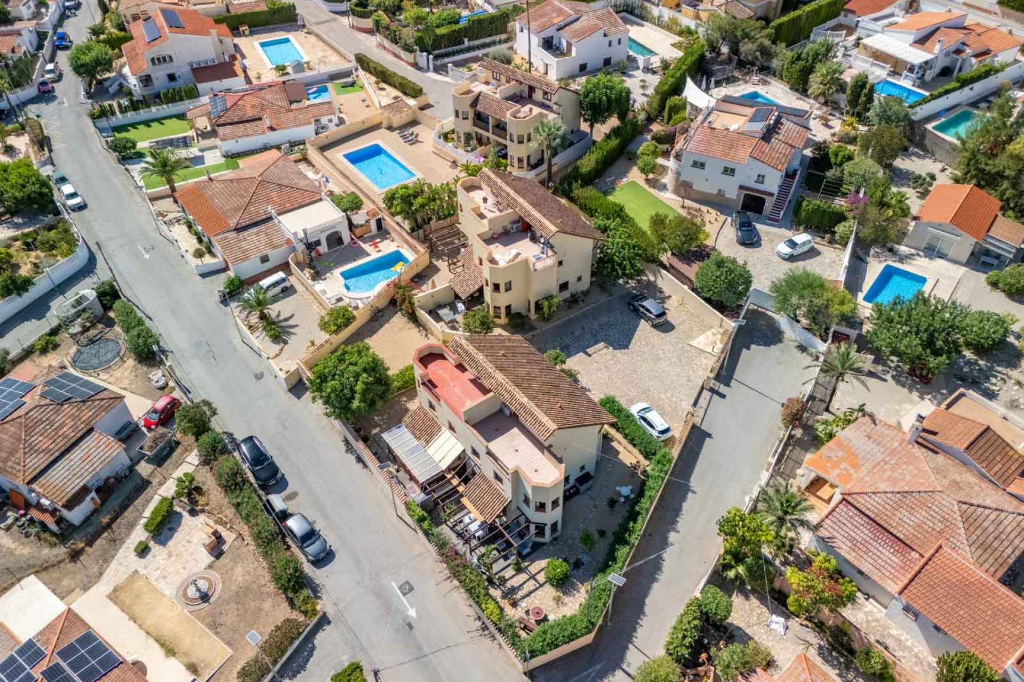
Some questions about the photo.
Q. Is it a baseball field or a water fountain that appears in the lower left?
water fountain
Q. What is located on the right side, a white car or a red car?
white car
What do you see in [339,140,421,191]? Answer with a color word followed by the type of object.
blue swimming pool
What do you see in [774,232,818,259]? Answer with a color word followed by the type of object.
white car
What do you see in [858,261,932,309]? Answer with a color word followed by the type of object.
blue swimming pool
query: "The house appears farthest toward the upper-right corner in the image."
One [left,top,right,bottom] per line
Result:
[879,2,1020,76]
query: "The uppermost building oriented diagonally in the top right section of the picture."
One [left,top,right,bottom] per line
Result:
[839,0,898,44]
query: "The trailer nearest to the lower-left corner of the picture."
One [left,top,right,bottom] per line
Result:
[134,425,175,459]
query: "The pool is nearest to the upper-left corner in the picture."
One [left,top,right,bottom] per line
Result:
[254,34,309,67]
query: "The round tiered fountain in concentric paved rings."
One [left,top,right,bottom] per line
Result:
[172,567,224,614]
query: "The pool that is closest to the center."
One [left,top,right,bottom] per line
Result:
[334,246,414,295]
